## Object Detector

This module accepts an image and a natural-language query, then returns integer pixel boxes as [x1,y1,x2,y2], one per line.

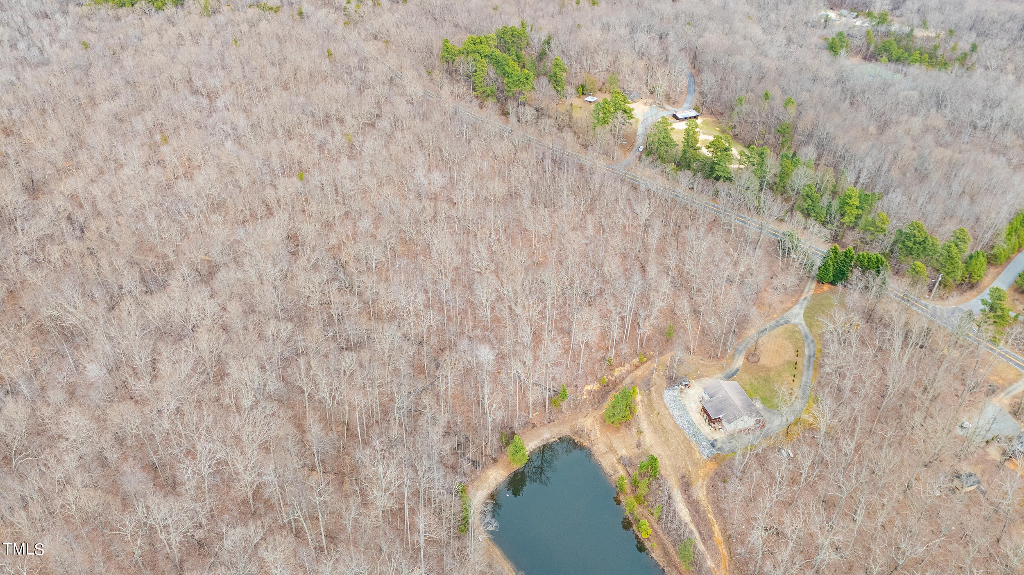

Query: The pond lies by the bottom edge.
[488,436,665,575]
